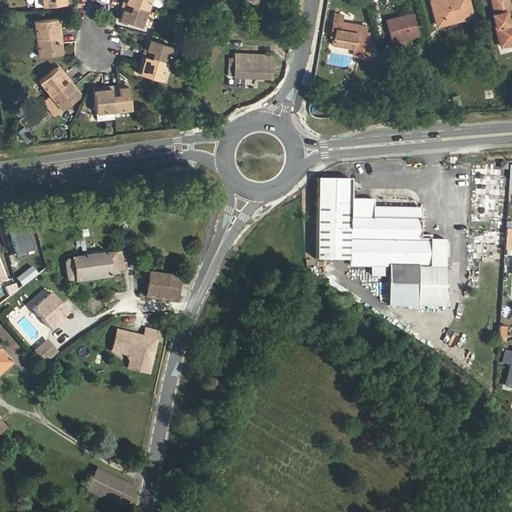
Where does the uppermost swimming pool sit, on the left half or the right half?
right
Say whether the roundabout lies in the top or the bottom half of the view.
top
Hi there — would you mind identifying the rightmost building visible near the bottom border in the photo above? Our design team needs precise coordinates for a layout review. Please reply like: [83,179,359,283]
[88,467,139,512]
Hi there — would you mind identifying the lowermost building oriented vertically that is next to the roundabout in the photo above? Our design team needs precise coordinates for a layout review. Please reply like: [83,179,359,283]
[320,178,353,260]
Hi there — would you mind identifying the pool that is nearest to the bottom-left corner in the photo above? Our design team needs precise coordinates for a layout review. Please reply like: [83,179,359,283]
[6,306,50,346]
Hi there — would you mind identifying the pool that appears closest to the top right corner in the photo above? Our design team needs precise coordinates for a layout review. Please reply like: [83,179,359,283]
[326,44,357,71]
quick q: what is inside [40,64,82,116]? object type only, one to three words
house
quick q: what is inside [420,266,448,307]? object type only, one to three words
building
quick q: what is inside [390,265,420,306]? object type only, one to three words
building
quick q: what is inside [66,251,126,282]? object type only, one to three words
house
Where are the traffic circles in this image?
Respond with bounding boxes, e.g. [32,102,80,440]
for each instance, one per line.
[216,112,305,202]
